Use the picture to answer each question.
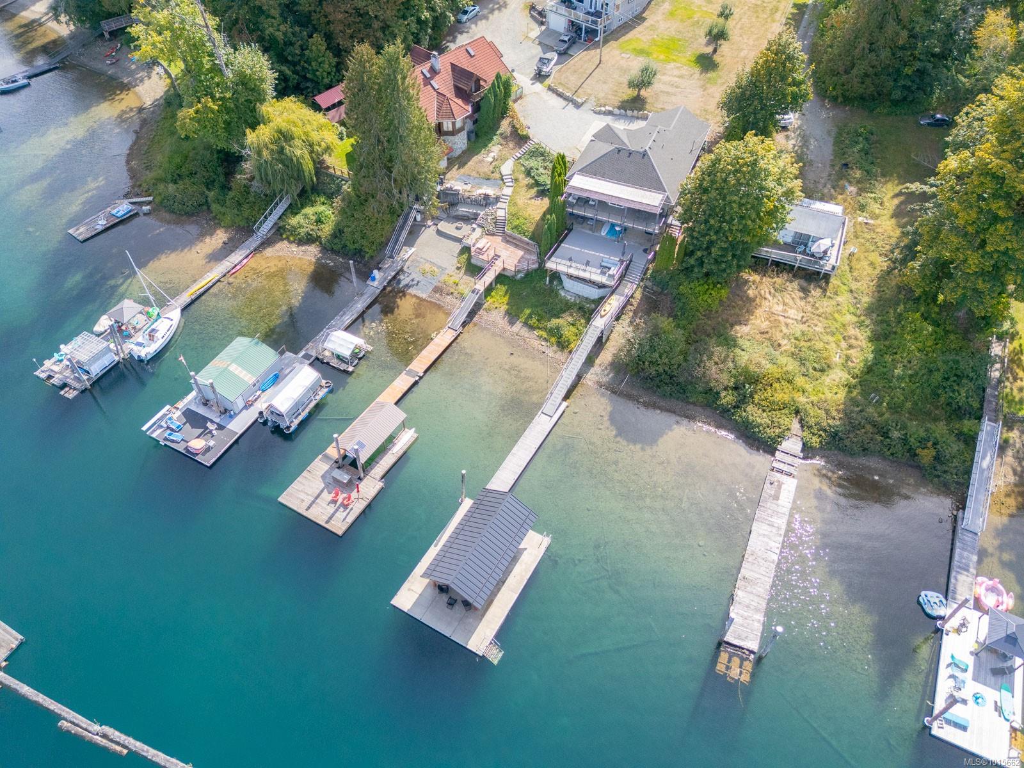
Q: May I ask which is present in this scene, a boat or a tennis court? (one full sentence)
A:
I can see a boat in this picture.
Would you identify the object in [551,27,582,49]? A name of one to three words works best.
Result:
truck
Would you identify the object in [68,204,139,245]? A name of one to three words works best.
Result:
pier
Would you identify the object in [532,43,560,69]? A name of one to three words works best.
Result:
boat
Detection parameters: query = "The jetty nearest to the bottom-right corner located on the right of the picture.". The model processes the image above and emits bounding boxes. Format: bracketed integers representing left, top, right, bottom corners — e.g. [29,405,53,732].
[920,603,1024,767]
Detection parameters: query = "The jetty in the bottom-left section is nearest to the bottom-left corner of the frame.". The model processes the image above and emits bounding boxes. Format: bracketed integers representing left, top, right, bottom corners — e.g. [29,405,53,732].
[0,621,25,666]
